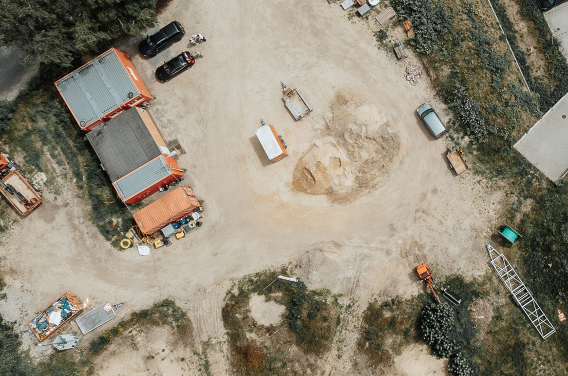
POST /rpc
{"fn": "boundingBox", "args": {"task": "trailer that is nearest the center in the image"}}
[256,121,288,163]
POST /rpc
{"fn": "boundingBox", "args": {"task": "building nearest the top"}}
[55,48,154,131]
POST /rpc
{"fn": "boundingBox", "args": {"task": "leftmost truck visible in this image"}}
[0,150,42,219]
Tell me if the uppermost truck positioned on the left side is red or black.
black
